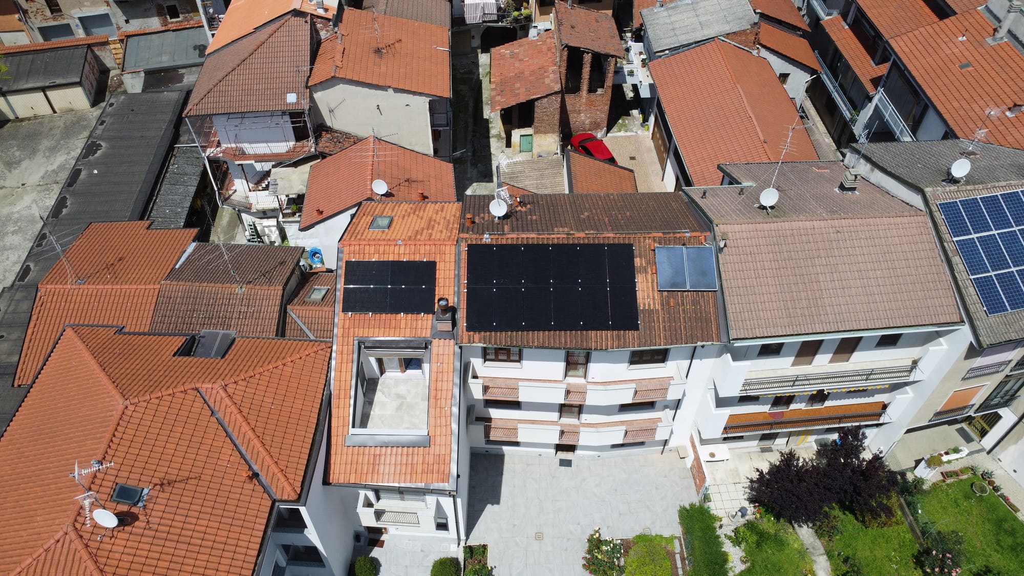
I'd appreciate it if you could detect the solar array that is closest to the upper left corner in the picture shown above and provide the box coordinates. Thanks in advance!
[341,258,436,315]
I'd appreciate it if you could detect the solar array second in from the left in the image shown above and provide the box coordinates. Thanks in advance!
[466,242,642,330]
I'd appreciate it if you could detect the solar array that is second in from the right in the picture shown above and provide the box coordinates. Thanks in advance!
[656,244,719,289]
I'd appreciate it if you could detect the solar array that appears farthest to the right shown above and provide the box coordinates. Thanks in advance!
[940,188,1024,314]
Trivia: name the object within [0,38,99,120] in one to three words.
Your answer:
building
